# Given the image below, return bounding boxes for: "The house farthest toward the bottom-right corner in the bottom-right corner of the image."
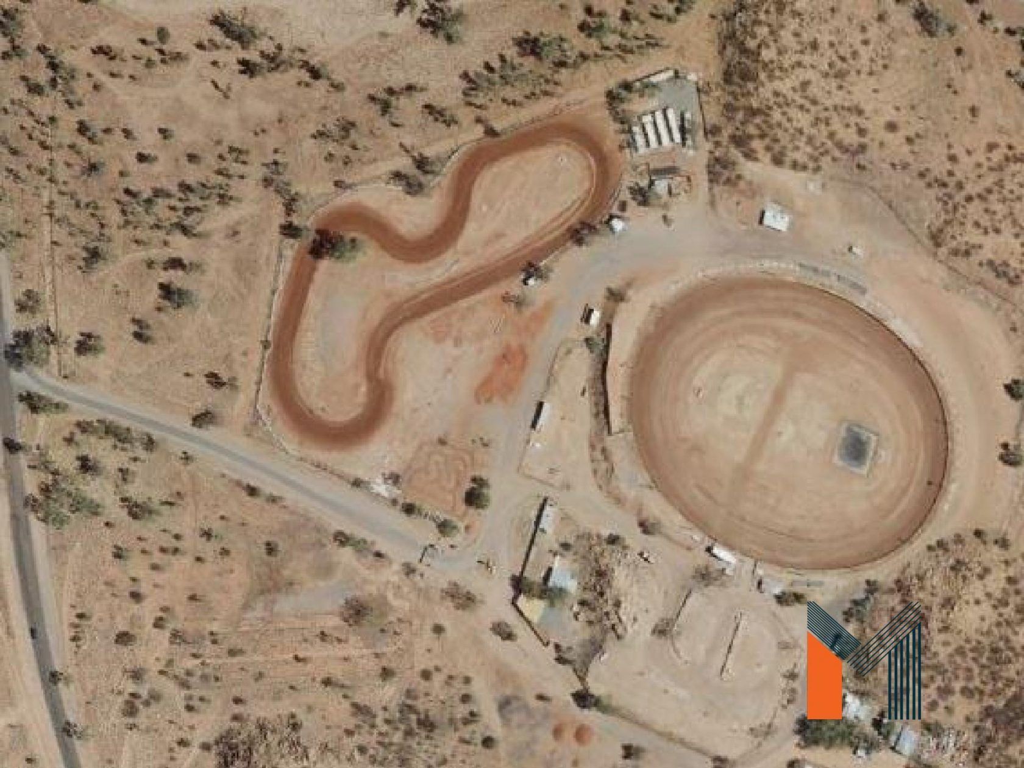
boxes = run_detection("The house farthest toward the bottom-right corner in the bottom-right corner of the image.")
[897,728,917,753]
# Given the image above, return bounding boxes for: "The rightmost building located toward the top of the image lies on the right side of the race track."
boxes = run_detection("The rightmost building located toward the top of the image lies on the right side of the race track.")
[763,204,790,230]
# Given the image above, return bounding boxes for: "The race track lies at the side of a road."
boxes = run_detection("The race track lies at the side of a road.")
[265,111,623,453]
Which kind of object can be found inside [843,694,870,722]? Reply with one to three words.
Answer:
shed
